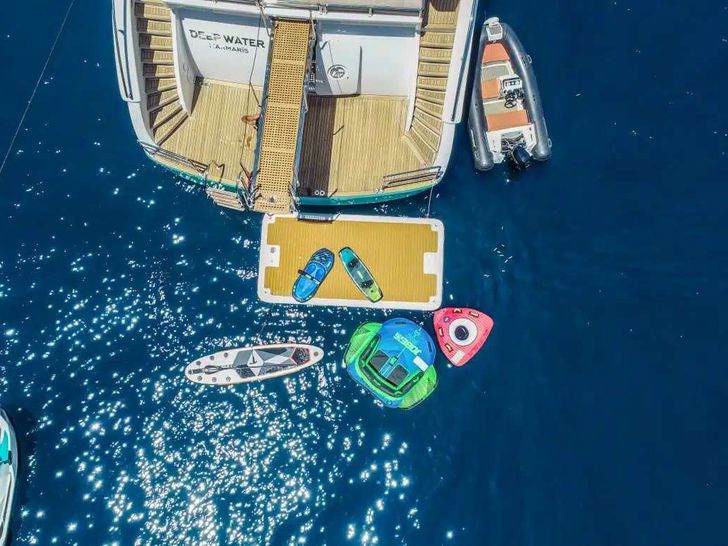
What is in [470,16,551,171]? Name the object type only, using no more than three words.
boat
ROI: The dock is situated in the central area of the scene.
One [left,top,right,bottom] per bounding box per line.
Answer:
[259,213,444,310]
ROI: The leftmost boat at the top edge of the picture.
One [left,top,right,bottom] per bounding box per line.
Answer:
[113,0,481,215]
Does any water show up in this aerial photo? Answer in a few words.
Yes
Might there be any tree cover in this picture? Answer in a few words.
No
